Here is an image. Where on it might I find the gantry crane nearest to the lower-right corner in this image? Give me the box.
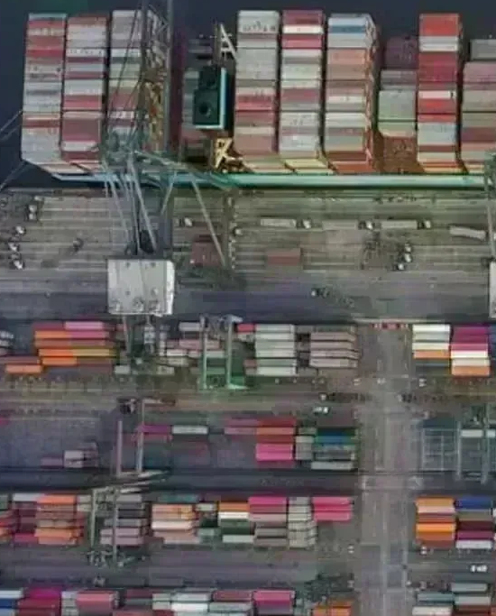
[455,399,496,484]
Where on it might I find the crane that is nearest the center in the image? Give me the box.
[188,312,250,391]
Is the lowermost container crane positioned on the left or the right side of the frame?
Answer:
left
